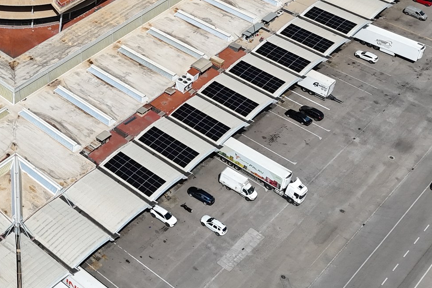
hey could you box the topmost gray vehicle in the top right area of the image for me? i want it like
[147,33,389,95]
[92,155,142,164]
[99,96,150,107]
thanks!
[403,5,427,21]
